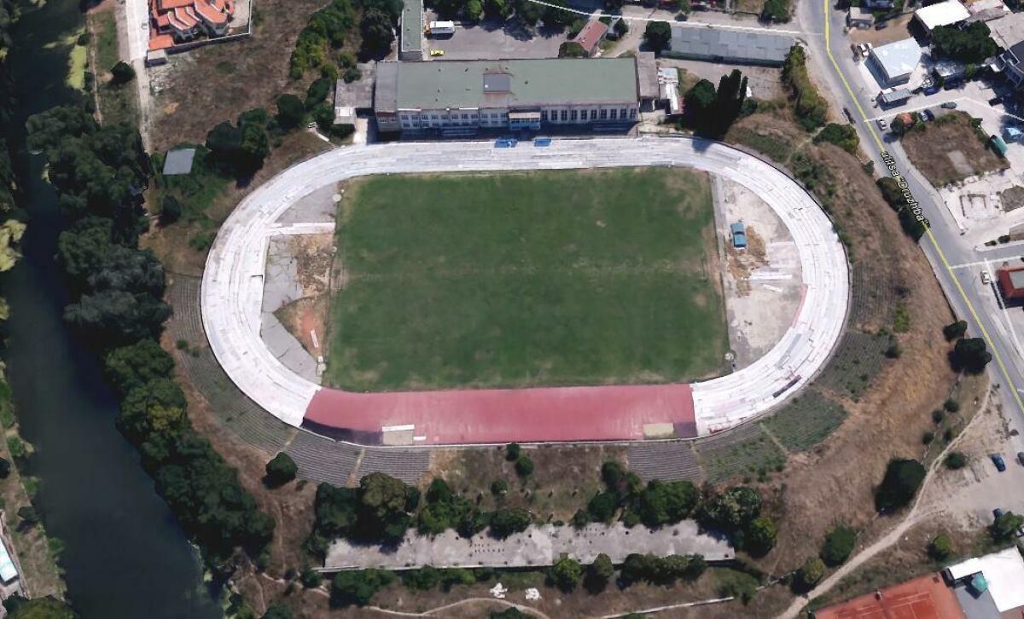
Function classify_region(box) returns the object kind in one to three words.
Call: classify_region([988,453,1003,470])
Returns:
car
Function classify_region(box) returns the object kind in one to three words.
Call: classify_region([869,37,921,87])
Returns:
house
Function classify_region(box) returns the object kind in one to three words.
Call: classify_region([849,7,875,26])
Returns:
shed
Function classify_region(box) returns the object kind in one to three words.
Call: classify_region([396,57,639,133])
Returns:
building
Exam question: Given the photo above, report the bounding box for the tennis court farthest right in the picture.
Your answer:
[879,572,972,619]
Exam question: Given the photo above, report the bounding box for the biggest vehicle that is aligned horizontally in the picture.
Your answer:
[427,23,454,37]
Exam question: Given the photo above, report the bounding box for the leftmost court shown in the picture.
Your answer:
[814,592,895,619]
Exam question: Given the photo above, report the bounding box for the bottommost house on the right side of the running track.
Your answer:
[995,263,1024,306]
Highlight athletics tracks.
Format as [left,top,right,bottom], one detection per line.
[198,134,853,449]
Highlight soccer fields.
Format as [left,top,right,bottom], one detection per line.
[324,167,731,390]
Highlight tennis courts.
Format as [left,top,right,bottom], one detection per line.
[879,572,972,619]
[814,592,895,619]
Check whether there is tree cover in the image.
Yes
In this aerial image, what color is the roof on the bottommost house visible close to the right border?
red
